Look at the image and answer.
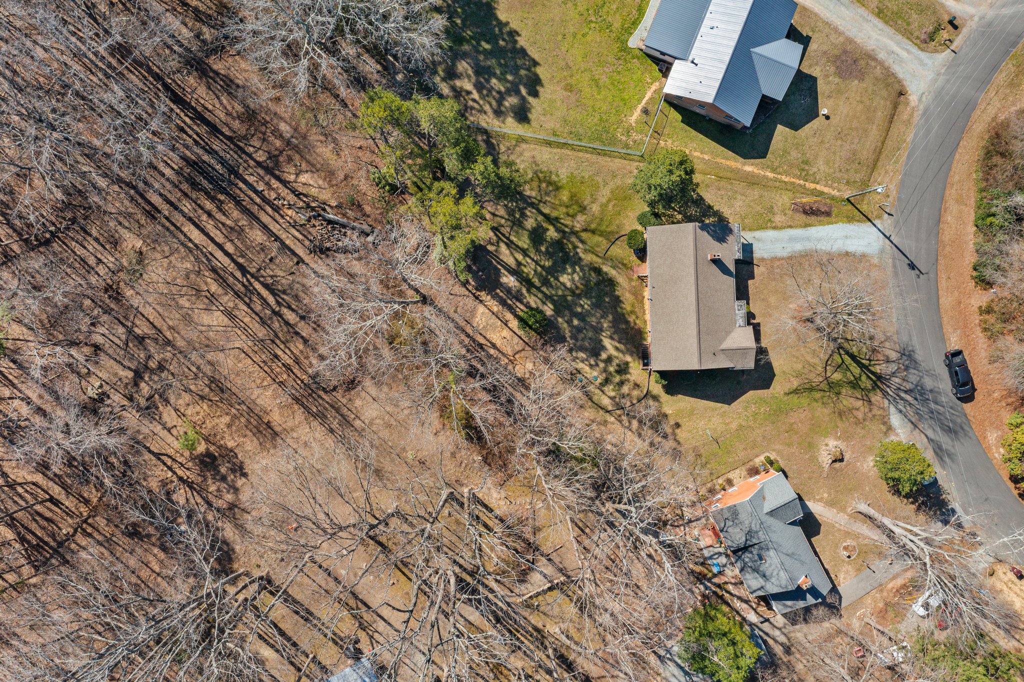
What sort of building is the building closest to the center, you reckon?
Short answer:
residential house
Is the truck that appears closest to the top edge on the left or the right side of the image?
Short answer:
right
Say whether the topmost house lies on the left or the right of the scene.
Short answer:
right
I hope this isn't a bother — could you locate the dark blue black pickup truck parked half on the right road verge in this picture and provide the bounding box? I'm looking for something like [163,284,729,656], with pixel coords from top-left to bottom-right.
[940,347,972,399]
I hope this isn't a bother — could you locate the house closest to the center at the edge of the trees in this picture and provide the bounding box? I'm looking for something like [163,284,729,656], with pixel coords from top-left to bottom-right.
[643,223,756,371]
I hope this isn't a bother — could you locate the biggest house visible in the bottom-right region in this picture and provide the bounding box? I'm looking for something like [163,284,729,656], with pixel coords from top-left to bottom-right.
[704,469,832,614]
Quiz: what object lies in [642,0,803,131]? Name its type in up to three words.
house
